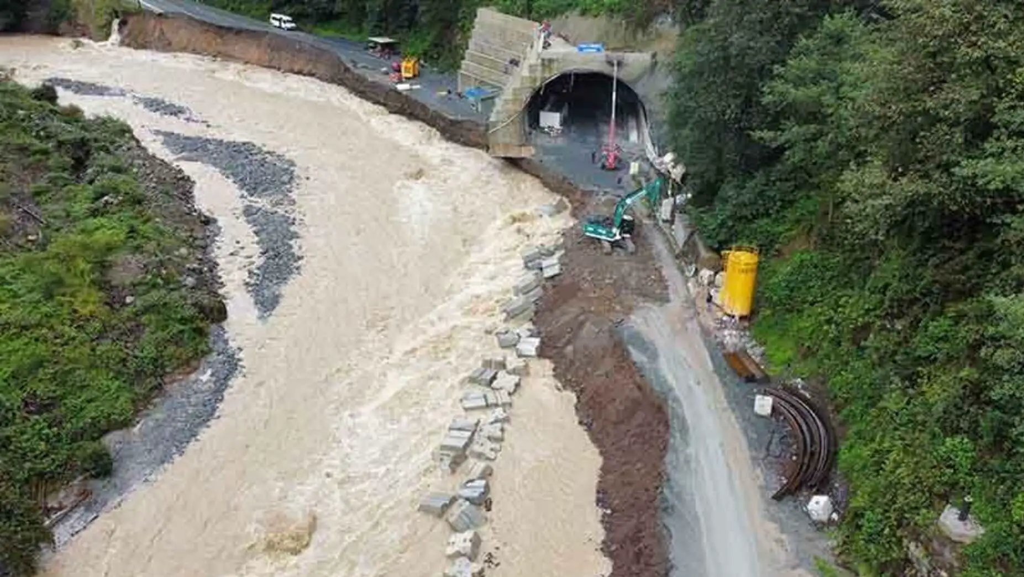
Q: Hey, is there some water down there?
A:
Yes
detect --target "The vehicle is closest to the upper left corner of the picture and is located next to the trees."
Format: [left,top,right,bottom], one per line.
[270,14,295,30]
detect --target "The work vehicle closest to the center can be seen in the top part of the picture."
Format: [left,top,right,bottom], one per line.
[585,183,667,255]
